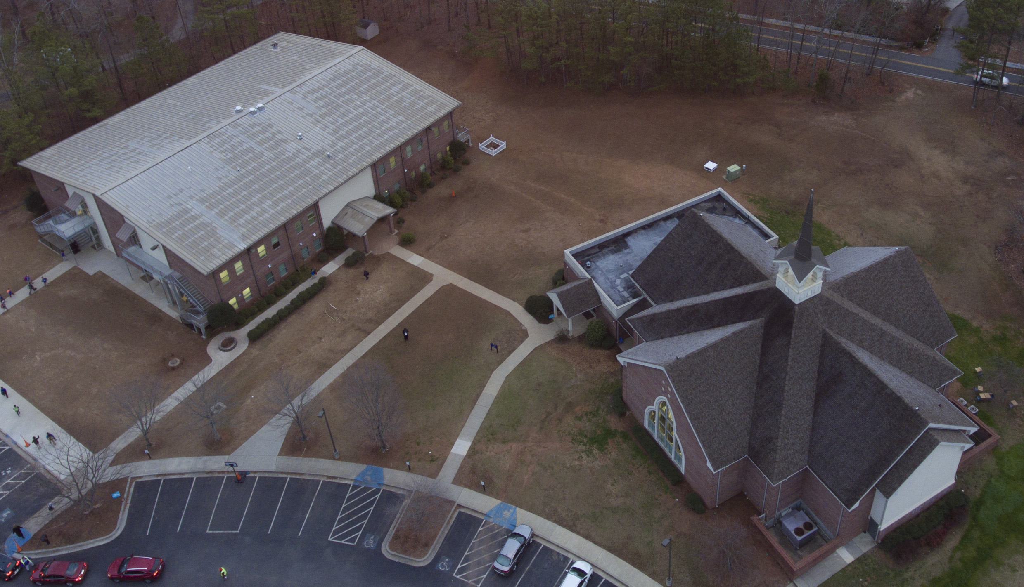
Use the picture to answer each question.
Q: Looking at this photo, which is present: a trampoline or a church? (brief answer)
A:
church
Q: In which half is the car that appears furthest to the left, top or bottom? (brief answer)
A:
bottom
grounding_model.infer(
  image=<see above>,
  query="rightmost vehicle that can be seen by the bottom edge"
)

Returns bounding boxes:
[557,559,593,587]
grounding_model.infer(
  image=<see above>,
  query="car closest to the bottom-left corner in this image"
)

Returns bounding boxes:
[0,552,20,582]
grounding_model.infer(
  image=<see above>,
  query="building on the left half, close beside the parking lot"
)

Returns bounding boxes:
[18,31,461,311]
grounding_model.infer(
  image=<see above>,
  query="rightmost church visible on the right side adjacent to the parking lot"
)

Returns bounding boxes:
[564,189,980,559]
